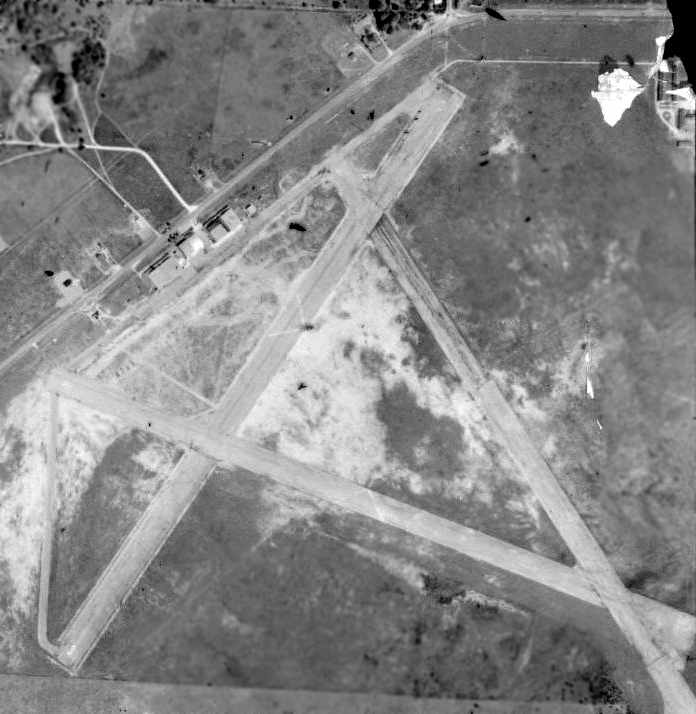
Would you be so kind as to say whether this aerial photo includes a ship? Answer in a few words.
No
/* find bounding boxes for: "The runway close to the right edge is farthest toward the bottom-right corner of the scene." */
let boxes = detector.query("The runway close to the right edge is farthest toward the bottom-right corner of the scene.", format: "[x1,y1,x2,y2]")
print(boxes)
[475,373,696,714]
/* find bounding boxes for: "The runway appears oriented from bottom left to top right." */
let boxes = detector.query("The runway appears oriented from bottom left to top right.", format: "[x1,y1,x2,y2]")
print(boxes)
[60,85,461,667]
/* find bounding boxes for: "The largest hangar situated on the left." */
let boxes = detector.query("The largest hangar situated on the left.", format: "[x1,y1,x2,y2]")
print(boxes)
[149,257,181,288]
